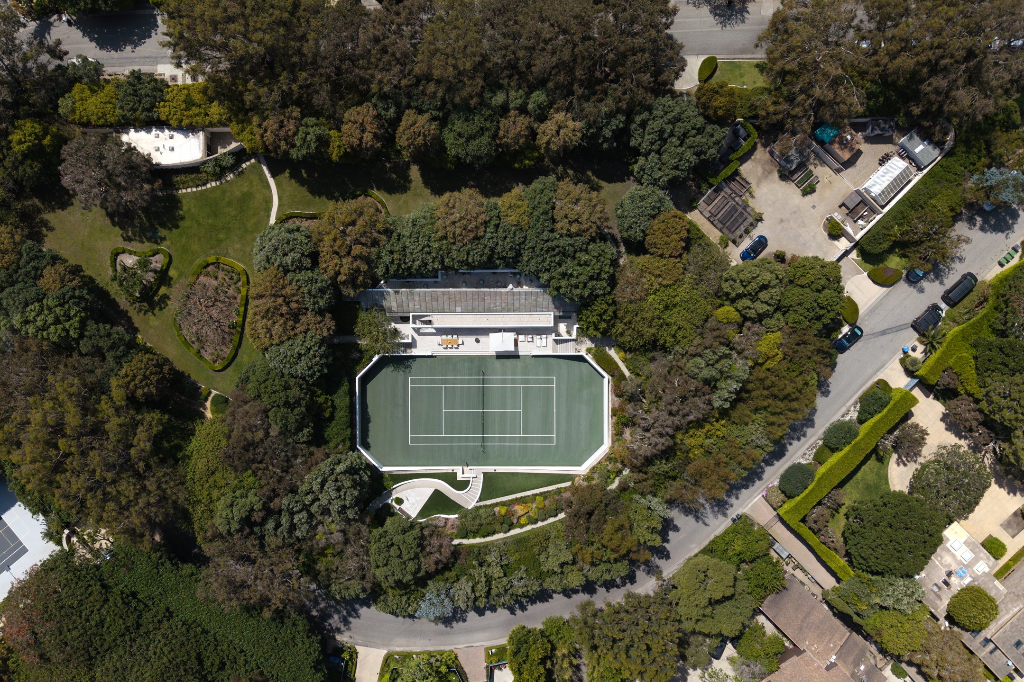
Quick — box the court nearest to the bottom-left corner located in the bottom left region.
[0,478,64,603]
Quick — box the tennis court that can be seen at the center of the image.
[361,355,603,467]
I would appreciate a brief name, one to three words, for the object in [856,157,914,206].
greenhouse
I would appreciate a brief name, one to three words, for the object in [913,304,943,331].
car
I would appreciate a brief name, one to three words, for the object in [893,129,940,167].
shed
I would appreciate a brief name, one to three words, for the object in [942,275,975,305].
car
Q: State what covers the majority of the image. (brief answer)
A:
trees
